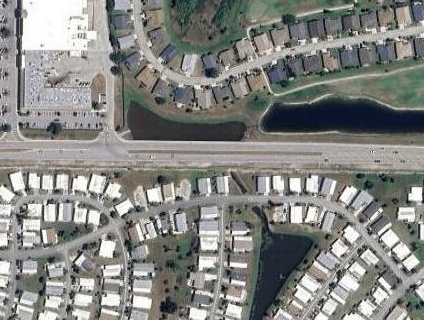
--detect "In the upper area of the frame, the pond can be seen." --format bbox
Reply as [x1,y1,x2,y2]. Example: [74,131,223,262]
[122,100,248,141]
